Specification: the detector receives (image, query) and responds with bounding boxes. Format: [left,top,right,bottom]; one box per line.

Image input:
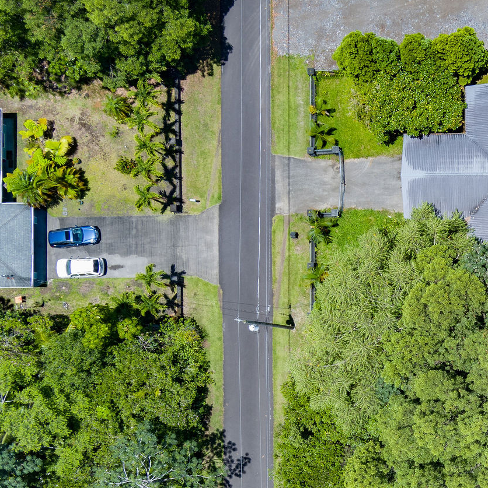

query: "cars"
[48,223,104,250]
[58,256,110,279]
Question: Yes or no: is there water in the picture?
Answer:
No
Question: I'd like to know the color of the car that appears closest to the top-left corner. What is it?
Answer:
blue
